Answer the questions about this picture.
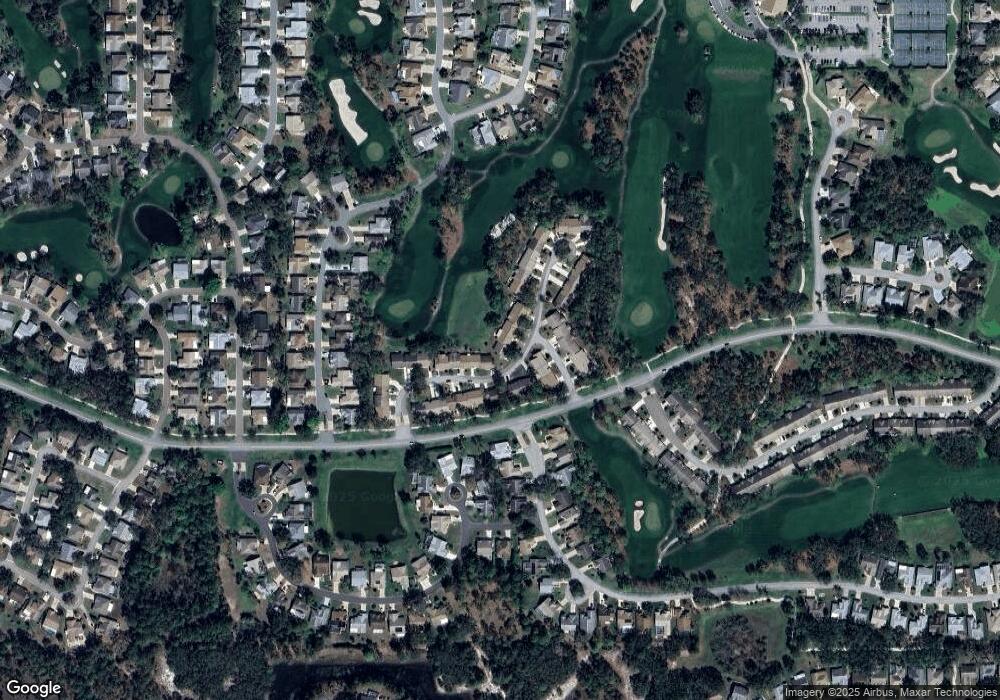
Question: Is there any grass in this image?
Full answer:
Yes, some grass is visible.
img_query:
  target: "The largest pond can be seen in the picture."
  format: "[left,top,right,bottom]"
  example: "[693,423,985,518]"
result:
[329,470,399,541]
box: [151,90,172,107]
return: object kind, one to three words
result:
house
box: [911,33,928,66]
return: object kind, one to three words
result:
tennis court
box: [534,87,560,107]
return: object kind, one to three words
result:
house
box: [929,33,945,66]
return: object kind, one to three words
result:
tennis court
